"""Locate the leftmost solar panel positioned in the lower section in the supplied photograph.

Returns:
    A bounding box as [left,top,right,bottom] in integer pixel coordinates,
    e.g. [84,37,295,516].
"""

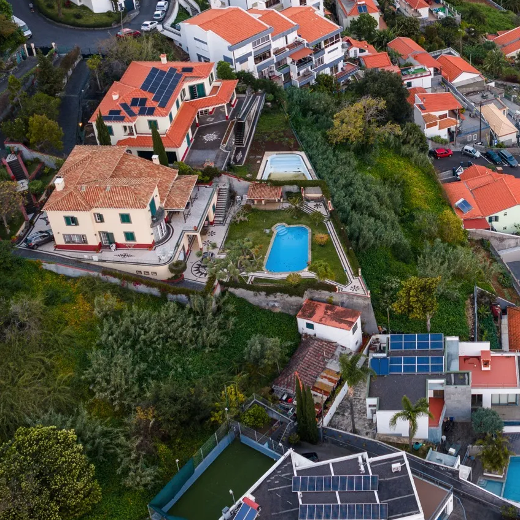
[234,501,260,520]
